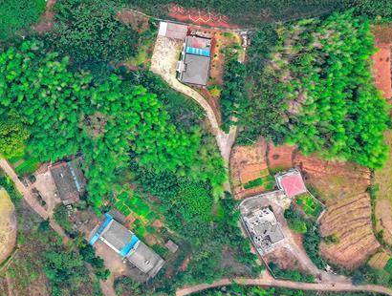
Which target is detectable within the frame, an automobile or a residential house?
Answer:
residential house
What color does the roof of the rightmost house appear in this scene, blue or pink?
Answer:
pink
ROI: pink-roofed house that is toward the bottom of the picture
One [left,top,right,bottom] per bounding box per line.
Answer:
[280,173,306,197]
